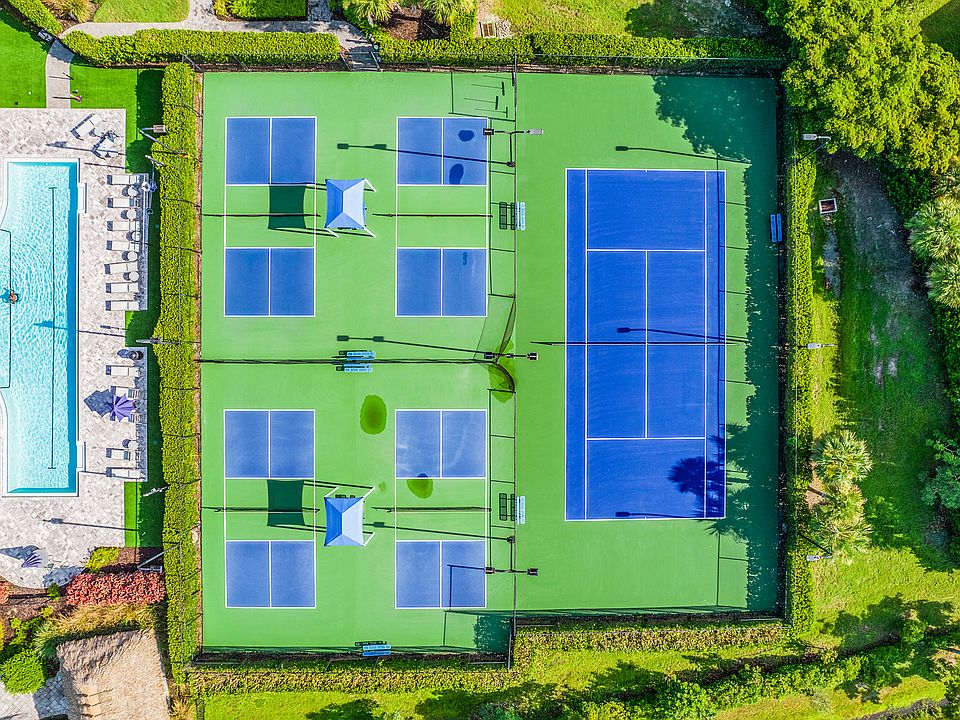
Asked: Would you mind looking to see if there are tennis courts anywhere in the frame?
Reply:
Yes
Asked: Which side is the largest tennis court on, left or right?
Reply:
right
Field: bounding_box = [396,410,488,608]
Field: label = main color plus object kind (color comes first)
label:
blue sports court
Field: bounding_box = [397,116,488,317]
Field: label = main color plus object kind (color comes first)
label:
blue sports court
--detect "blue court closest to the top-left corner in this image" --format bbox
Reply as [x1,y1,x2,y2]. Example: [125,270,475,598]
[225,116,317,317]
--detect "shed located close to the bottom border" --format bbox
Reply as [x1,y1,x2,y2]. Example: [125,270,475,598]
[57,620,176,720]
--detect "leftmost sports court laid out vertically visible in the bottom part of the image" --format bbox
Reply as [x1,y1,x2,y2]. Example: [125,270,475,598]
[224,410,316,608]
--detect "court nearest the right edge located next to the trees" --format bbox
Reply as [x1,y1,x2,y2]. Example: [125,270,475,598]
[516,74,778,616]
